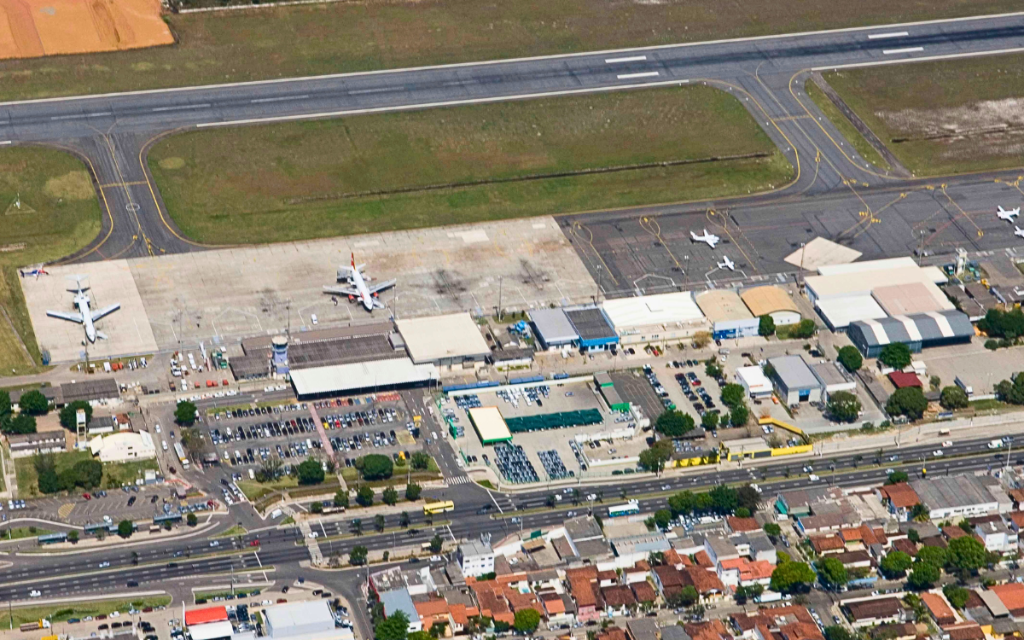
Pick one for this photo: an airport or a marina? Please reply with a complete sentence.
The picture captures an airport.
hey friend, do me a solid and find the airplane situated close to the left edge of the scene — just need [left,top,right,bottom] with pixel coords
[48,277,122,344]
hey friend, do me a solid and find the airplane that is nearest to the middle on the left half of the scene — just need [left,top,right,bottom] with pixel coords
[323,254,397,311]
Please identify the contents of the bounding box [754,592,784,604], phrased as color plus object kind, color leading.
white vehicle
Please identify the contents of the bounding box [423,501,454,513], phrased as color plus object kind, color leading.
yellow vehicle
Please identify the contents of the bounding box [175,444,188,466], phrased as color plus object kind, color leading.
white vehicle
